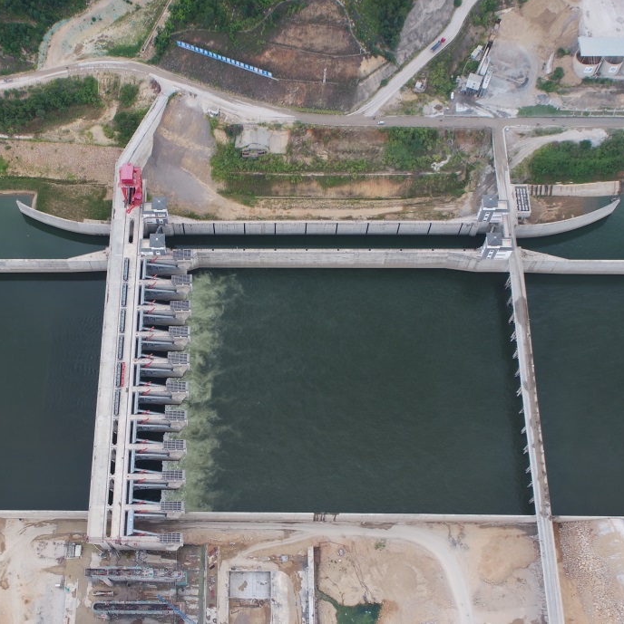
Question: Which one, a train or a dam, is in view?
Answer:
dam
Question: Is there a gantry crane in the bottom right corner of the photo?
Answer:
No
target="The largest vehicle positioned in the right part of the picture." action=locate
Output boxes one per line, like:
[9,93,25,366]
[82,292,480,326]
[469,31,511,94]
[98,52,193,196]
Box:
[429,35,446,51]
